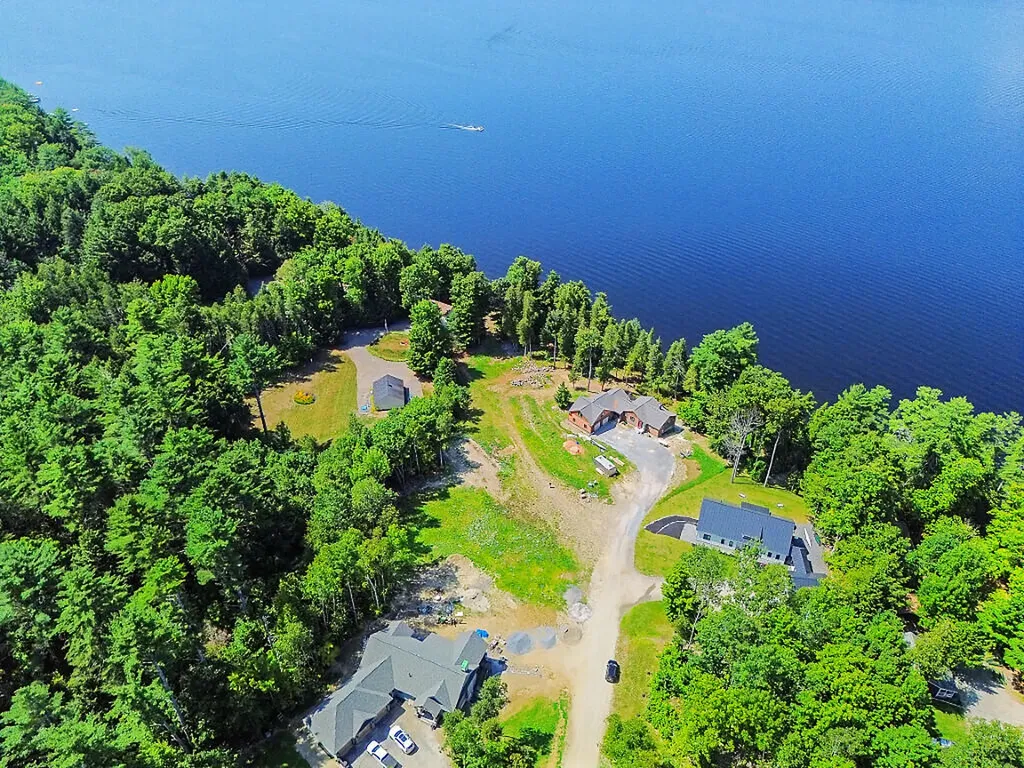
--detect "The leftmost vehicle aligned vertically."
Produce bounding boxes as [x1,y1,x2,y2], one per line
[605,655,619,683]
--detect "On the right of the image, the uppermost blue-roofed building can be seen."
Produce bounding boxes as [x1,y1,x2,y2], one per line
[696,499,802,581]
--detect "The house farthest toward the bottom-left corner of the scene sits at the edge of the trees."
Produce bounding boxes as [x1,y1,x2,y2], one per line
[300,618,493,761]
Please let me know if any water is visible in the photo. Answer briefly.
Yes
